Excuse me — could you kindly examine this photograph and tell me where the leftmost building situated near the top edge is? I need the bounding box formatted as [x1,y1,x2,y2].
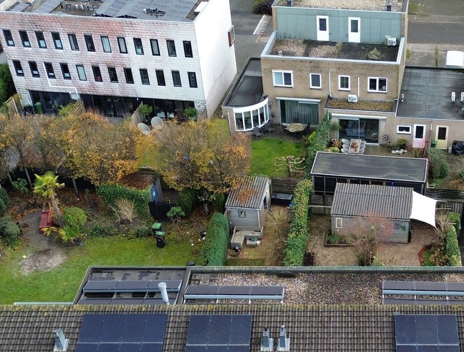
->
[0,0,236,120]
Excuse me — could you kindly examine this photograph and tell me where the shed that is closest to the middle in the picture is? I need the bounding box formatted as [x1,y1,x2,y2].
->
[222,175,269,232]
